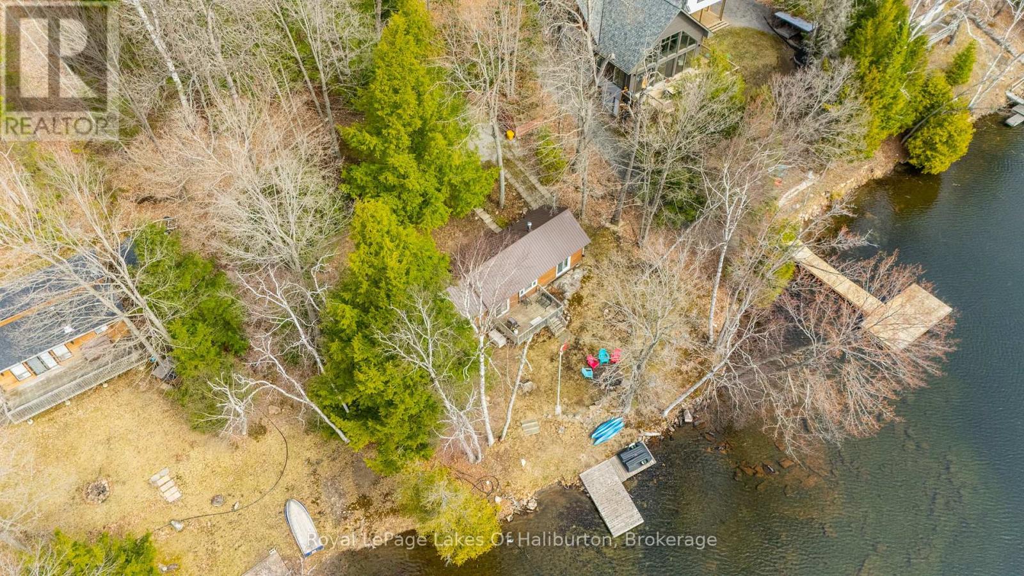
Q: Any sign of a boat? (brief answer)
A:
Yes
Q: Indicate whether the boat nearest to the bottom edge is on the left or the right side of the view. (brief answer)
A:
left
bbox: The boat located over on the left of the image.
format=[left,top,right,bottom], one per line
[285,496,319,554]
